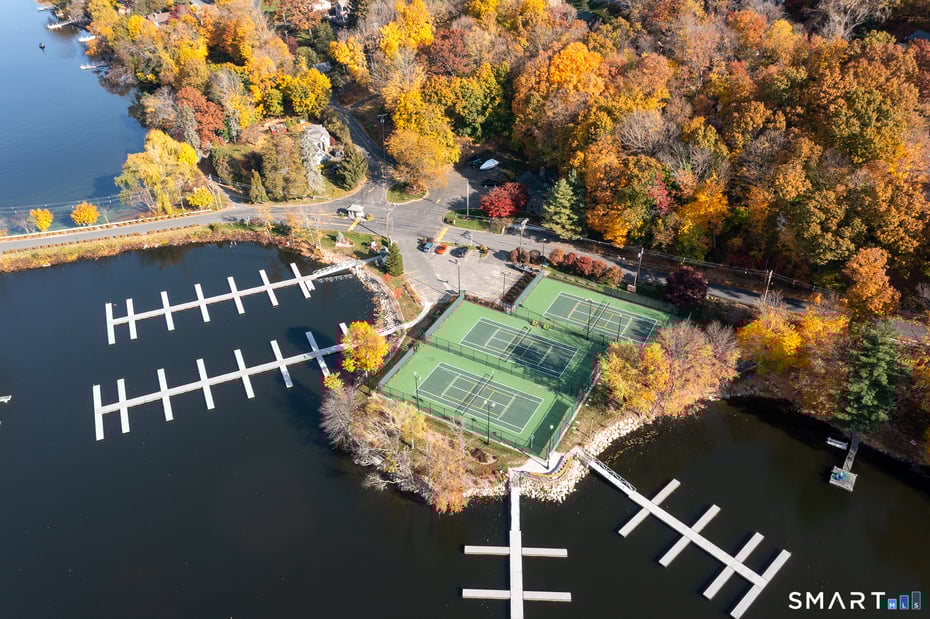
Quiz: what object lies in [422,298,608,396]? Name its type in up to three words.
tennis court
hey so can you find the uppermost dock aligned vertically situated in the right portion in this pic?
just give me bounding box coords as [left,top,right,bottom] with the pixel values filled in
[827,435,860,495]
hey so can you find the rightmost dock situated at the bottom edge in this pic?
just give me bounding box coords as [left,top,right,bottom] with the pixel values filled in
[618,479,791,619]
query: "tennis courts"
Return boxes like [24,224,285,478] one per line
[510,273,680,355]
[375,340,579,460]
[422,298,608,396]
